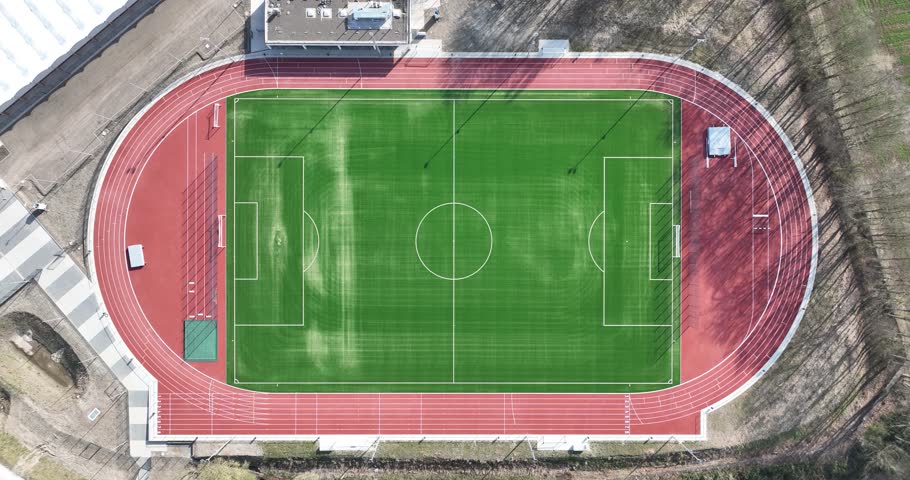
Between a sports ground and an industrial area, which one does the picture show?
sports ground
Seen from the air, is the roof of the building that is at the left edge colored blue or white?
white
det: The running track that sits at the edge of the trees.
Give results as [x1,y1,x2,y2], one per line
[95,58,813,435]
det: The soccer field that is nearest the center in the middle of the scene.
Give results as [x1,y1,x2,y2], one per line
[227,89,681,393]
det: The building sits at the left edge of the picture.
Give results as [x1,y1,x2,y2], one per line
[0,0,159,135]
